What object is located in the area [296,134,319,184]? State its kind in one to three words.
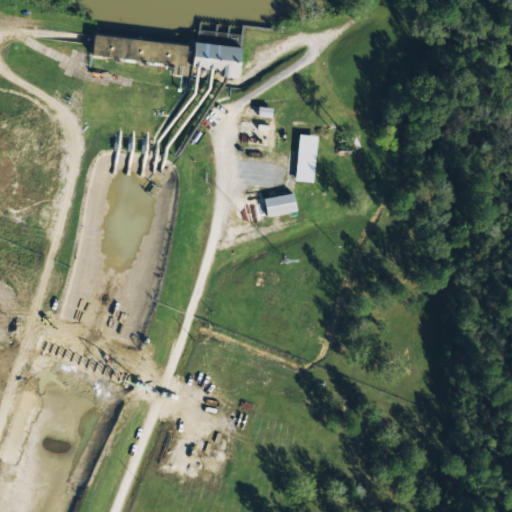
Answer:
building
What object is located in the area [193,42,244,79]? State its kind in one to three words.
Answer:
building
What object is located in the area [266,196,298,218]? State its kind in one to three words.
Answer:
shed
